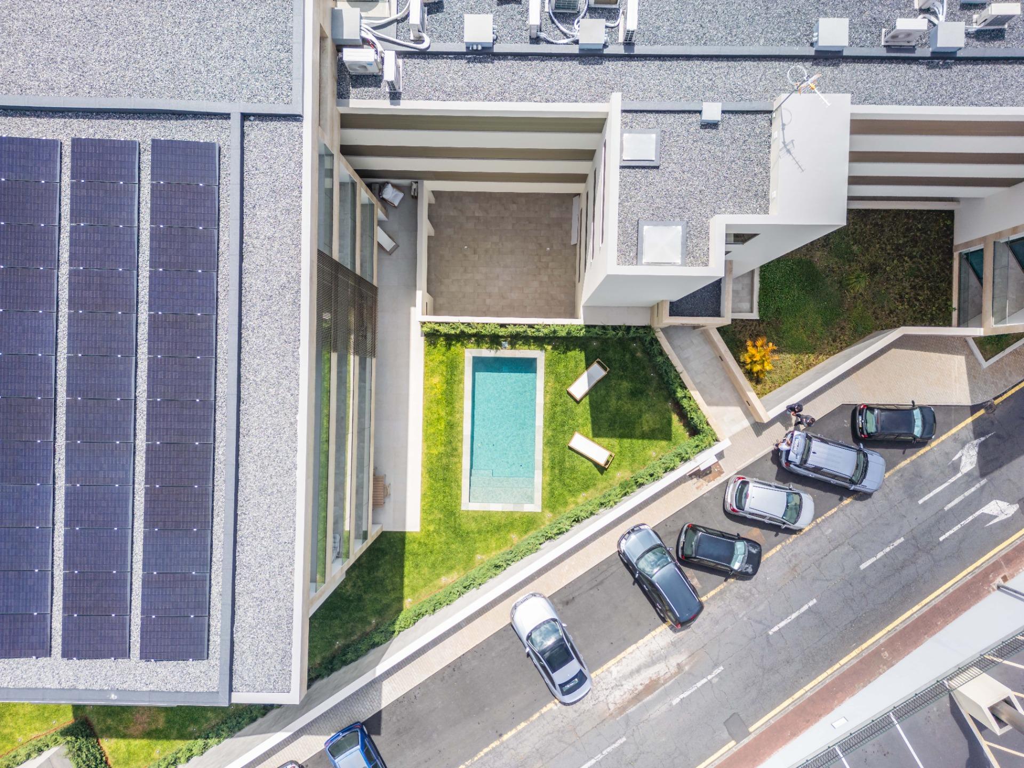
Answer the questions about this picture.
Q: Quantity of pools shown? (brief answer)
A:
1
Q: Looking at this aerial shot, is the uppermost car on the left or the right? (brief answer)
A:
right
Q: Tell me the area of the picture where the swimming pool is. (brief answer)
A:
center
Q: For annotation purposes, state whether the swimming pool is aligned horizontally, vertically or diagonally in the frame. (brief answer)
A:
vertically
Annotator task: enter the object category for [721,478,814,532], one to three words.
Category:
car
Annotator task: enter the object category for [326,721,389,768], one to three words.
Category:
car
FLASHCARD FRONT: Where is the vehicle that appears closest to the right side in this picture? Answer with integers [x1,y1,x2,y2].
[850,401,933,447]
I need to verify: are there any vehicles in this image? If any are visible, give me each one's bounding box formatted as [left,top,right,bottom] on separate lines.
[850,401,933,447]
[783,431,882,496]
[511,588,593,705]
[618,521,709,630]
[674,524,761,581]
[326,721,389,768]
[721,478,814,532]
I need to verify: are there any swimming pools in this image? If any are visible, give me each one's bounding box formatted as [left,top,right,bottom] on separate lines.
[461,349,545,512]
